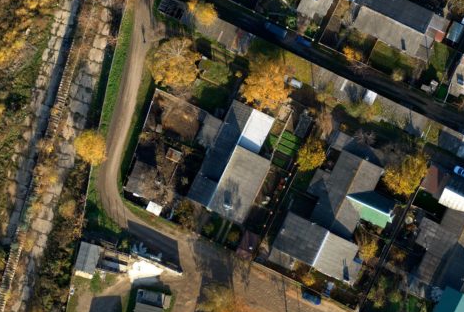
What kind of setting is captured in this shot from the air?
residential area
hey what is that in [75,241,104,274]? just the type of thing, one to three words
shed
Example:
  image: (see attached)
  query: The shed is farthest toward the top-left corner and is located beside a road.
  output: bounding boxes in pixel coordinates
[158,0,186,19]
